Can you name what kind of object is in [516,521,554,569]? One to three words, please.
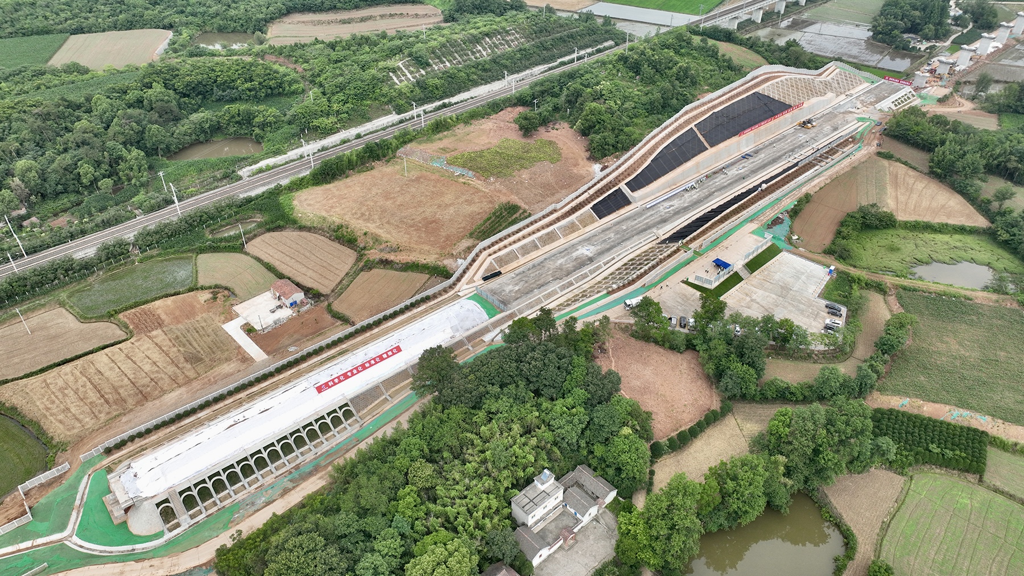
house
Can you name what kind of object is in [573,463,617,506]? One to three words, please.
house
